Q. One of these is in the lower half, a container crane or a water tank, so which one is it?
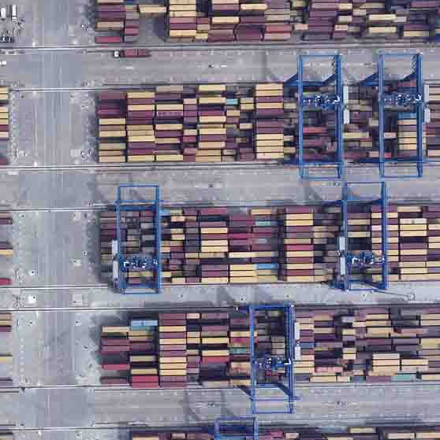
container crane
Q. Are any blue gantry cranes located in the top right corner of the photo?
Yes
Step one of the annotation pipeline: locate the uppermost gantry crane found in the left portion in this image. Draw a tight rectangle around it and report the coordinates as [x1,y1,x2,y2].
[110,185,163,294]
